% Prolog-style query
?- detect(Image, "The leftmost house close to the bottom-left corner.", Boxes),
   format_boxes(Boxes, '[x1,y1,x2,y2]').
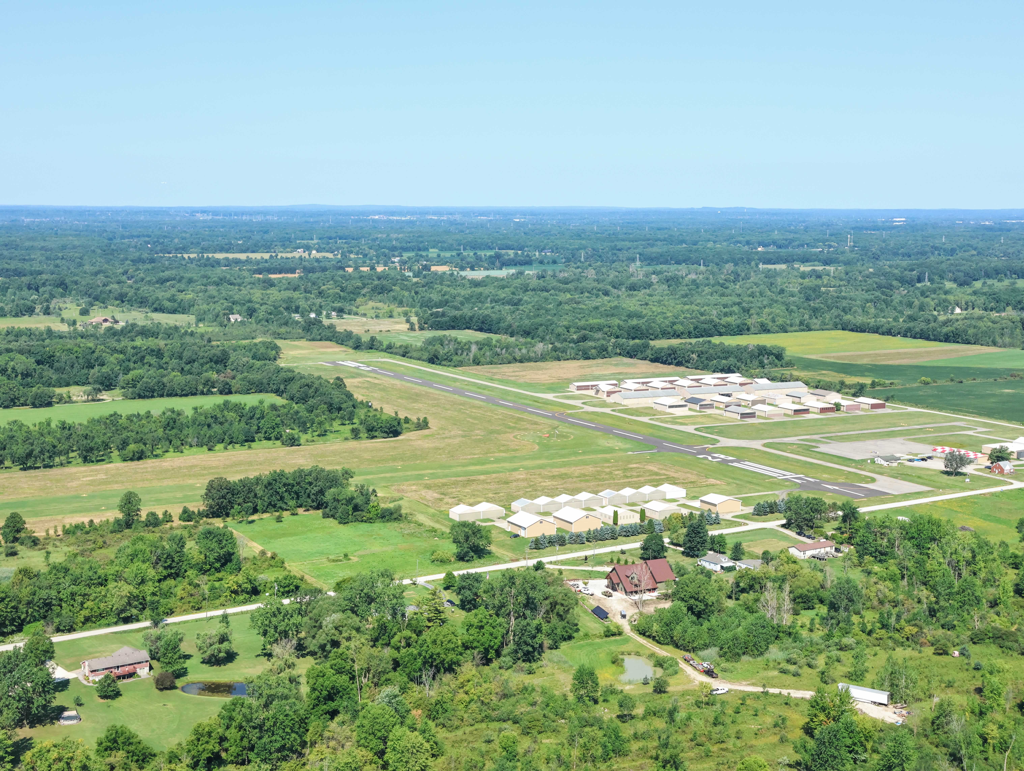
[84,642,152,680]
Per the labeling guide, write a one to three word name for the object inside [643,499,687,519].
building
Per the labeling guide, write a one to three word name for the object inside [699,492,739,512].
barn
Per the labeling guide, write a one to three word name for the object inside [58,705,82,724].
swimming pool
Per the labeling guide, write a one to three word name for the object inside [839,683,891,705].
trailer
